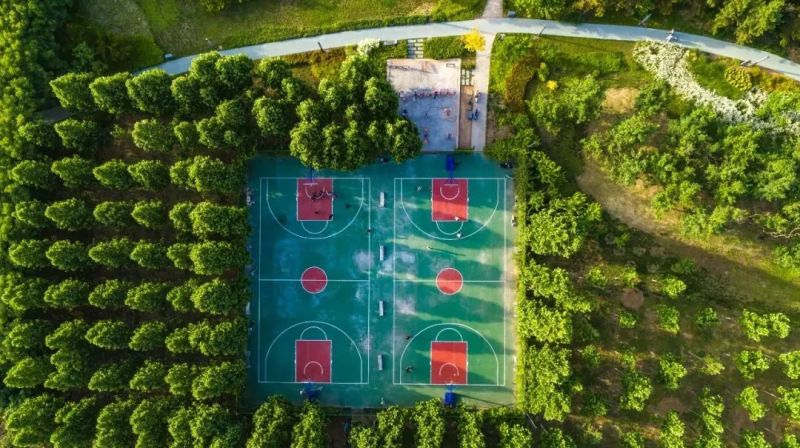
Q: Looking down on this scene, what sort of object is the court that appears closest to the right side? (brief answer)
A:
basketball court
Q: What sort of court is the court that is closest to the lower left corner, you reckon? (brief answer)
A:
basketball court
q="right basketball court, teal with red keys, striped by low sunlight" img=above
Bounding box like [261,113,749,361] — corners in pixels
[393,177,505,385]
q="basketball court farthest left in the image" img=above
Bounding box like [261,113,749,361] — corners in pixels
[257,177,370,385]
